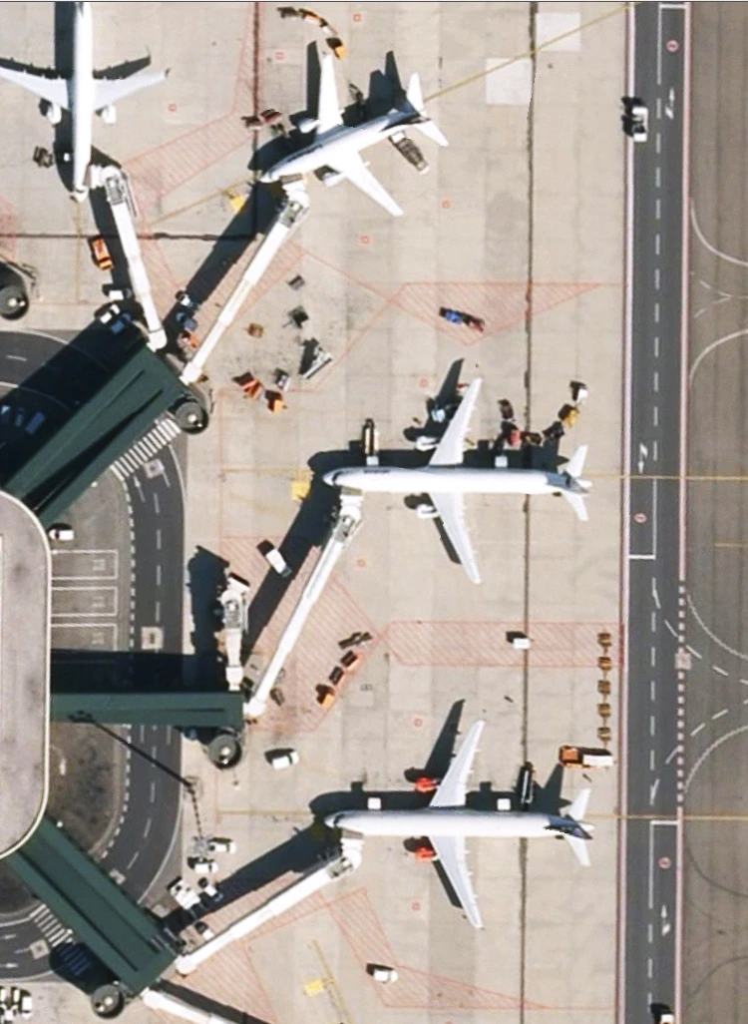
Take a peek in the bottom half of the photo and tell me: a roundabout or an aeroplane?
aeroplane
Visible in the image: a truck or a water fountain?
truck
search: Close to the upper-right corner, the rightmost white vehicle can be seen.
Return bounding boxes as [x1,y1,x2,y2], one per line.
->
[632,105,647,143]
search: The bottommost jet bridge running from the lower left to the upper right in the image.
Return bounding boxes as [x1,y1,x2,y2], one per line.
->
[173,831,364,969]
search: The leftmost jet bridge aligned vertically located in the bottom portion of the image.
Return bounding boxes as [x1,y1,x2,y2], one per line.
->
[218,569,248,686]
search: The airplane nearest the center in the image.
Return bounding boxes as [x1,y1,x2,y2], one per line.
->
[325,378,596,590]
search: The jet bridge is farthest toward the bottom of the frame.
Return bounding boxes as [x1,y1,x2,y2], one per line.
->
[133,986,219,1024]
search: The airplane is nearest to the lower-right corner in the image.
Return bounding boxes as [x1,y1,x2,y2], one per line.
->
[325,722,594,930]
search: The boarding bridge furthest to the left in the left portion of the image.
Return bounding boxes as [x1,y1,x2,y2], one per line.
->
[90,161,167,351]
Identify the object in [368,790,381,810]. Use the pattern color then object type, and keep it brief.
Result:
white vehicle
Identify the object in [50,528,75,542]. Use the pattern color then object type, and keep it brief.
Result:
white vehicle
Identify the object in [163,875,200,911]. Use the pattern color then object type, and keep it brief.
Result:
white truck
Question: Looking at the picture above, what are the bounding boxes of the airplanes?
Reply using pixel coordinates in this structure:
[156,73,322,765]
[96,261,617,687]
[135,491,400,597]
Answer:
[260,52,449,218]
[325,378,596,590]
[0,0,171,198]
[325,722,594,930]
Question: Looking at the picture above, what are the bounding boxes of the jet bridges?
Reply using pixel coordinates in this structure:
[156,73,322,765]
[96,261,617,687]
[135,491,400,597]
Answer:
[173,831,364,969]
[133,986,219,1024]
[90,161,167,351]
[218,569,248,686]
[182,173,305,393]
[243,488,360,711]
